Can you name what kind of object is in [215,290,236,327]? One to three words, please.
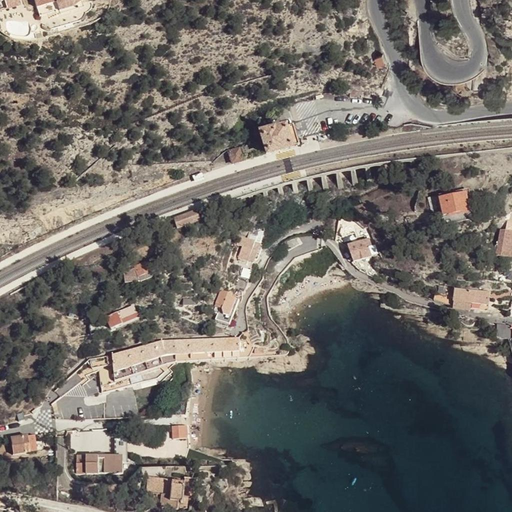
house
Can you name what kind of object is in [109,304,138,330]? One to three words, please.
house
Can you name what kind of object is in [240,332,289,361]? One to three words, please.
building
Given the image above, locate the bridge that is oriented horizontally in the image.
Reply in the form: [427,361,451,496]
[220,146,512,200]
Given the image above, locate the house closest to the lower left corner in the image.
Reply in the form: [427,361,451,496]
[10,434,38,456]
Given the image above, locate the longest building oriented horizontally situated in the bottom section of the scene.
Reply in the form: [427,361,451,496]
[82,338,241,390]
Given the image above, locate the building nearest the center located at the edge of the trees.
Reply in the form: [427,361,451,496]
[238,230,263,282]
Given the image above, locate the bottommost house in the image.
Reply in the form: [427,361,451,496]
[147,476,191,510]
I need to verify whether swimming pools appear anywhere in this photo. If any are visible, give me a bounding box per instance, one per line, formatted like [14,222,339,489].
[6,21,30,36]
